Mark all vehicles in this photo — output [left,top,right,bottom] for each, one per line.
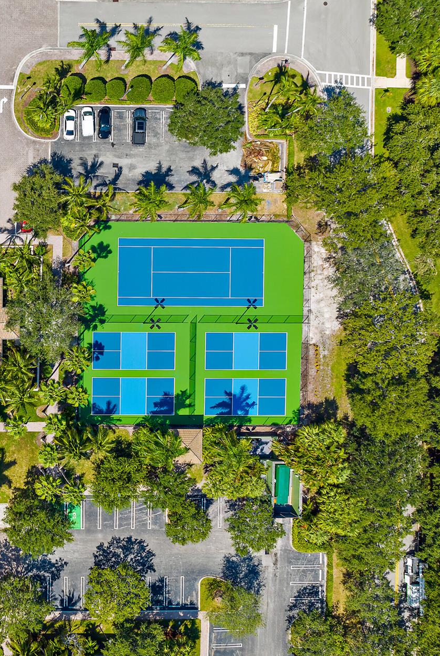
[80,107,95,137]
[131,109,146,145]
[63,110,77,139]
[97,109,112,138]
[399,545,425,616]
